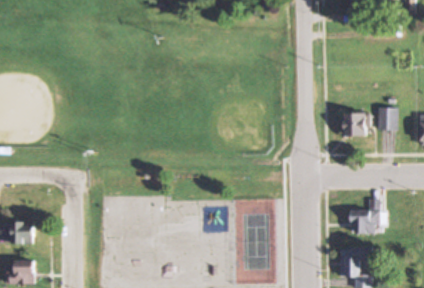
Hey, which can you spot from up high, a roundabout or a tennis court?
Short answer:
tennis court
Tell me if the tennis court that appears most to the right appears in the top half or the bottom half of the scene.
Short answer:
bottom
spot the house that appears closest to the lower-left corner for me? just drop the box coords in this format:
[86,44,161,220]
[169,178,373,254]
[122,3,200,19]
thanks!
[0,261,37,286]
